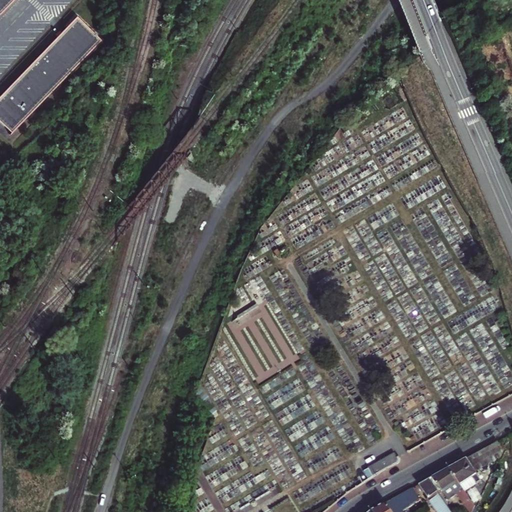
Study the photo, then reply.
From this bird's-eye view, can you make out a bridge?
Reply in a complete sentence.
Yes, there's a bridge here.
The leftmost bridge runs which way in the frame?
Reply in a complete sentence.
The leftmost bridge is oriented at an angle.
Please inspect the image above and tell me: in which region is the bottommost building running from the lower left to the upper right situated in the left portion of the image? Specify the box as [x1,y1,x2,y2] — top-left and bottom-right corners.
[0,14,102,134]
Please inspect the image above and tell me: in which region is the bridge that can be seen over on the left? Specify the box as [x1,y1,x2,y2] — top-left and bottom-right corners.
[108,139,192,243]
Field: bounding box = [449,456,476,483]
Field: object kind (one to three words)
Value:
house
